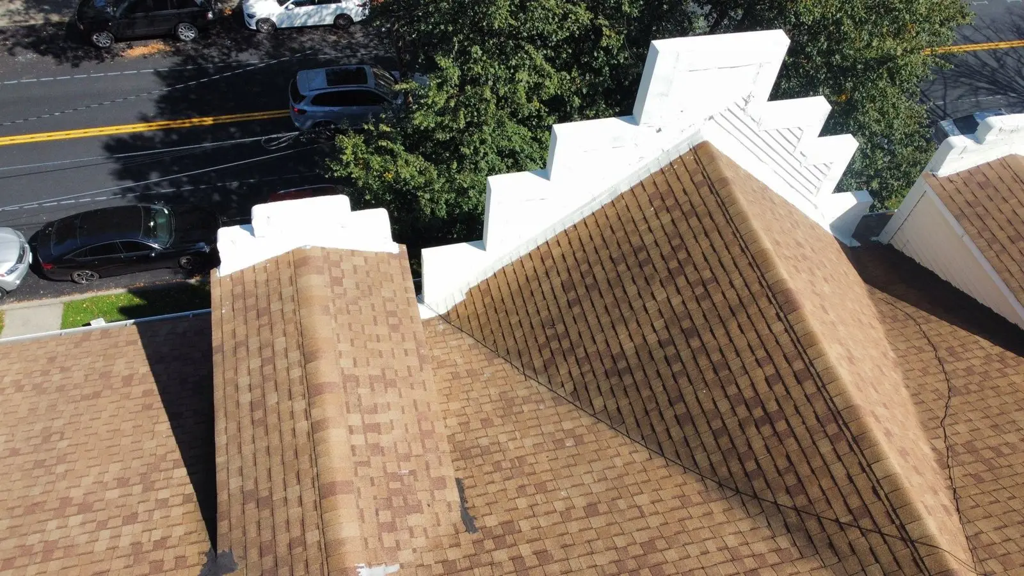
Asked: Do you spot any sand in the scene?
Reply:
No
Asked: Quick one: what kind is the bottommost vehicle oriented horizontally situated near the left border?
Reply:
car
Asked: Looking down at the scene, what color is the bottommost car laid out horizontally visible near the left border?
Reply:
black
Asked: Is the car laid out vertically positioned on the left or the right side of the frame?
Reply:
left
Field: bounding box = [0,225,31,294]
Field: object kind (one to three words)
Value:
car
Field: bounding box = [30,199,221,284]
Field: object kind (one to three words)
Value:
car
